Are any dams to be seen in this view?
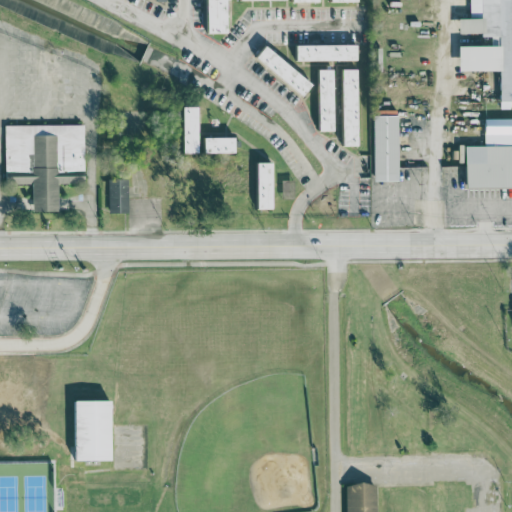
No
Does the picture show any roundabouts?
No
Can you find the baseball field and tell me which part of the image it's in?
bottom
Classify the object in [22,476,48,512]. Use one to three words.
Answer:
tennis court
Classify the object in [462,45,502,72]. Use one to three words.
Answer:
building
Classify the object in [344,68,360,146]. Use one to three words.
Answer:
building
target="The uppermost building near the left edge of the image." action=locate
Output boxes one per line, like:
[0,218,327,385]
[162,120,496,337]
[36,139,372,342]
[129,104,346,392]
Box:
[5,124,86,212]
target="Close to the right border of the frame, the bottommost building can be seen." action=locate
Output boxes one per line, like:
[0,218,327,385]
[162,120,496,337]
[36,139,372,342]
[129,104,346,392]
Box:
[468,146,512,188]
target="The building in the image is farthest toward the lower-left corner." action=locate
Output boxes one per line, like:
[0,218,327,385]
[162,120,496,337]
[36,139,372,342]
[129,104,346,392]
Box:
[74,402,112,463]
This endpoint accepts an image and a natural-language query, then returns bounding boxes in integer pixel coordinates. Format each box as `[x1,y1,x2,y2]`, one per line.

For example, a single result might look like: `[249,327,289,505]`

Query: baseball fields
[176,374,315,512]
